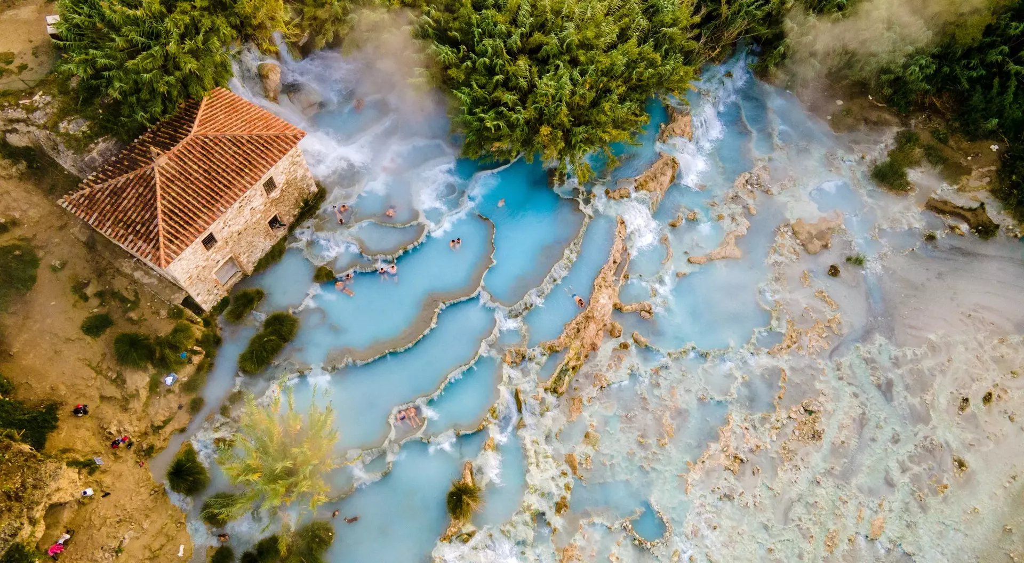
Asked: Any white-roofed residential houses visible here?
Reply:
No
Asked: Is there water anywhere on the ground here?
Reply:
Yes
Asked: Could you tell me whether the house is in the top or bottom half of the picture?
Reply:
top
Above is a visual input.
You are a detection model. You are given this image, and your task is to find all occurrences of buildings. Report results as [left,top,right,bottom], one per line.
[55,84,318,308]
